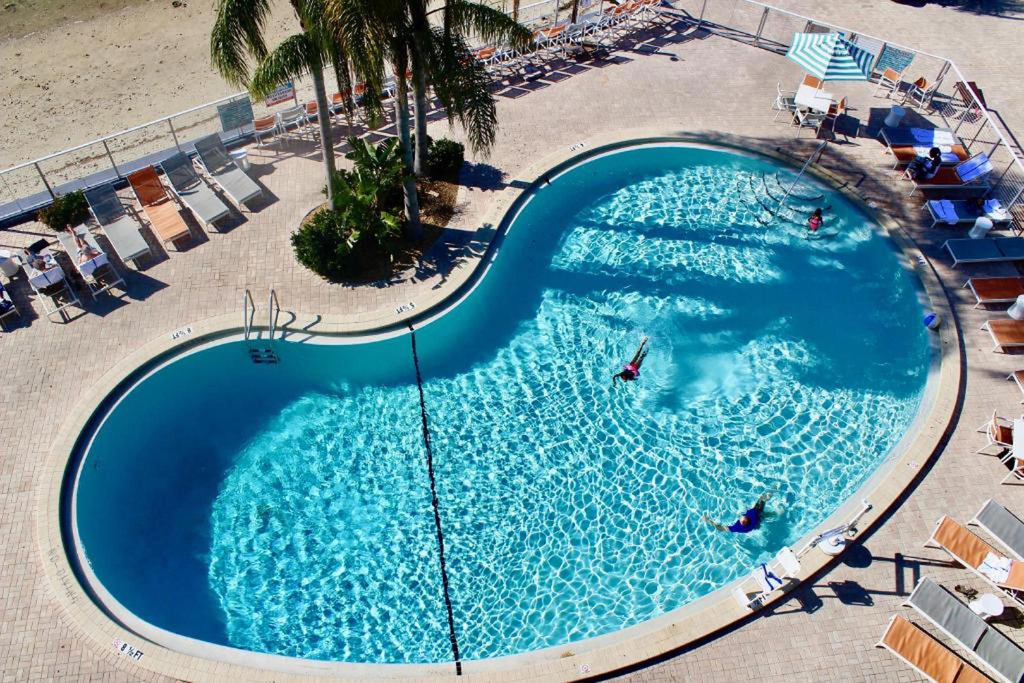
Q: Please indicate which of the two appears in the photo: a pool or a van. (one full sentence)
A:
The one in the frame is a pool.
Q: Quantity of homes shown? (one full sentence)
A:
No homes are visible.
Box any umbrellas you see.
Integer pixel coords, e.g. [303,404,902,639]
[786,27,874,97]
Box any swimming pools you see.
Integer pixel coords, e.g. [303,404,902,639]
[77,147,927,667]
